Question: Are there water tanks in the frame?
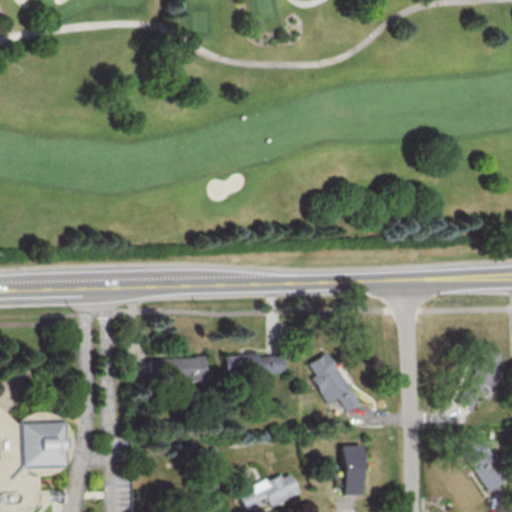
No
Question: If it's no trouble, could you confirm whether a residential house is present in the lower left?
Yes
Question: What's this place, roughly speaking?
golf course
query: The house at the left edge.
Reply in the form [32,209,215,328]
[22,420,68,469]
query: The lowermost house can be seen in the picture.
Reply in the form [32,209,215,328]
[240,474,302,512]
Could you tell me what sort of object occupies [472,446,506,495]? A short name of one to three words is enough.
house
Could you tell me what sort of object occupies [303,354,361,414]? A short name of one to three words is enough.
house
